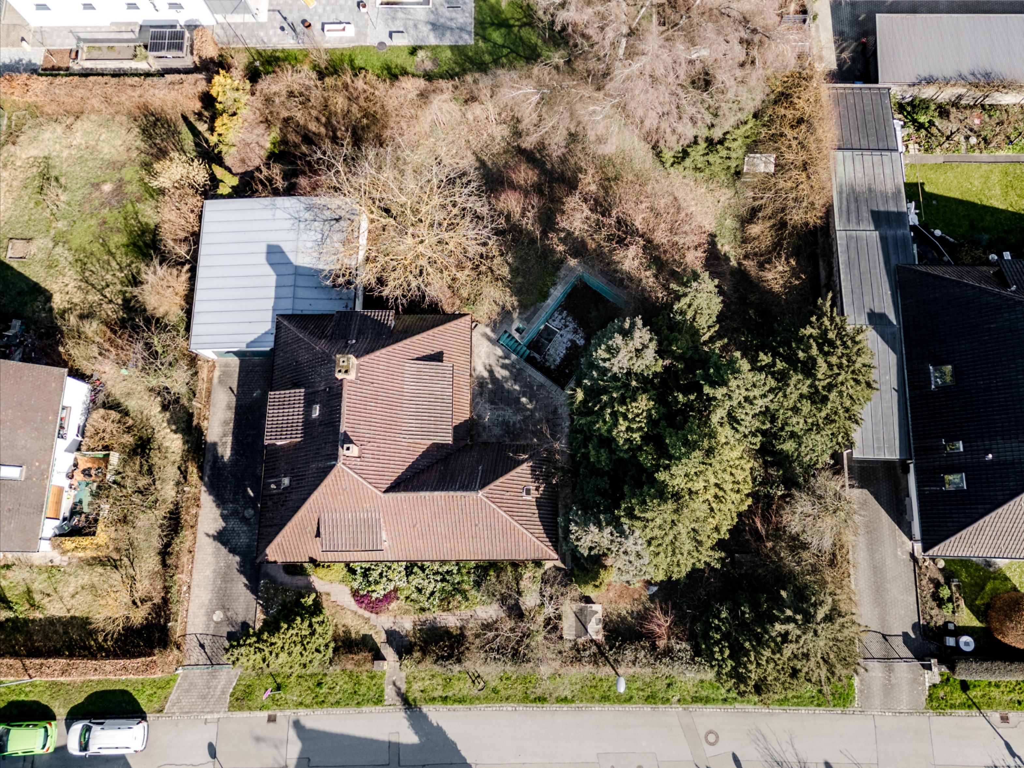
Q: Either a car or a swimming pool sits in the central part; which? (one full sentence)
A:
It is a swimming pool that can be seen in the central part.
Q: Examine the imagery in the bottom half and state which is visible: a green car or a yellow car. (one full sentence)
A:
There is a green car in the bottom half.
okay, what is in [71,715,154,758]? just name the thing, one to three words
car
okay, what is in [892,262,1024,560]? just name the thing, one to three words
house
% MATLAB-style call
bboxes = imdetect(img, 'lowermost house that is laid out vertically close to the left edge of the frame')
[0,360,91,553]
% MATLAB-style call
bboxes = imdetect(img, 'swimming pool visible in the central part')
[497,273,629,389]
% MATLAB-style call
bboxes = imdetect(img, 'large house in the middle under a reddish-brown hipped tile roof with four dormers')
[256,308,562,564]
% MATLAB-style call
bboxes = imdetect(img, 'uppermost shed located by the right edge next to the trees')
[855,11,1024,104]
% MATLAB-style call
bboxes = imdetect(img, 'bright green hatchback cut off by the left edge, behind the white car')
[0,717,62,757]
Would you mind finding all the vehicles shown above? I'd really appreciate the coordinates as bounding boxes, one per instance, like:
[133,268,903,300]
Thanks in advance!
[0,717,62,757]
[71,715,154,758]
